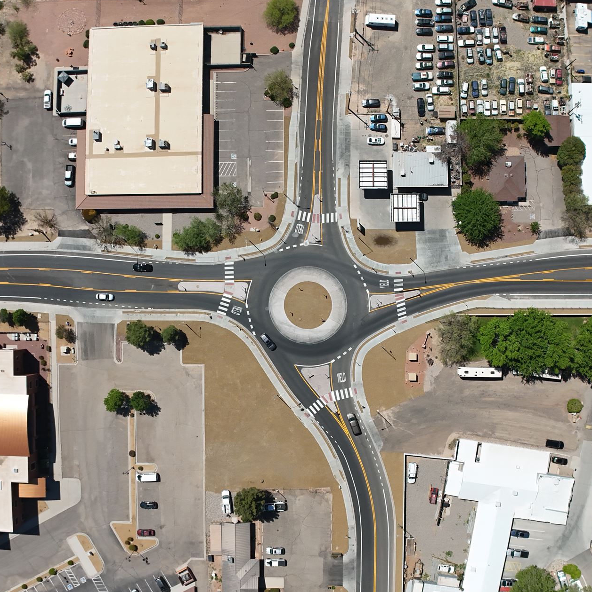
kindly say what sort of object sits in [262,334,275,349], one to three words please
vehicle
